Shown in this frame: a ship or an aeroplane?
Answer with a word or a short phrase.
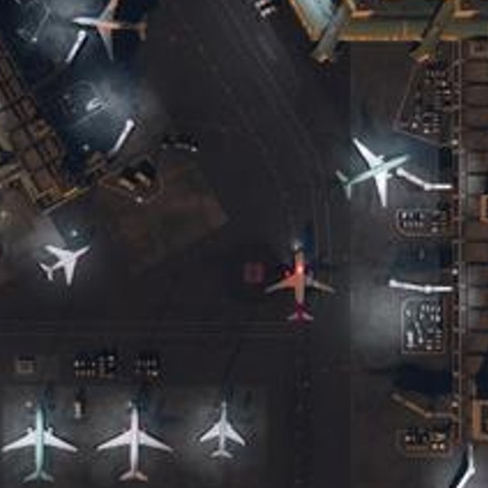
aeroplane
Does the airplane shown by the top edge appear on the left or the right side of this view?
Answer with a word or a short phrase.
left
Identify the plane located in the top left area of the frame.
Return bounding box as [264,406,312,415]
[73,0,149,60]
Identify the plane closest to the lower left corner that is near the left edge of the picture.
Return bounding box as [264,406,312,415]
[0,408,77,486]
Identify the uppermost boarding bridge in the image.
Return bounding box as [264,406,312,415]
[52,28,88,76]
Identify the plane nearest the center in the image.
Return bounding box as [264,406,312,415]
[265,250,336,322]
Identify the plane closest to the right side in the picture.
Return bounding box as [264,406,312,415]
[335,138,408,205]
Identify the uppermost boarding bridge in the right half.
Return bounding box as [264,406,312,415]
[395,166,450,190]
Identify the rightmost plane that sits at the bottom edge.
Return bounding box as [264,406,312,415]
[199,403,247,467]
